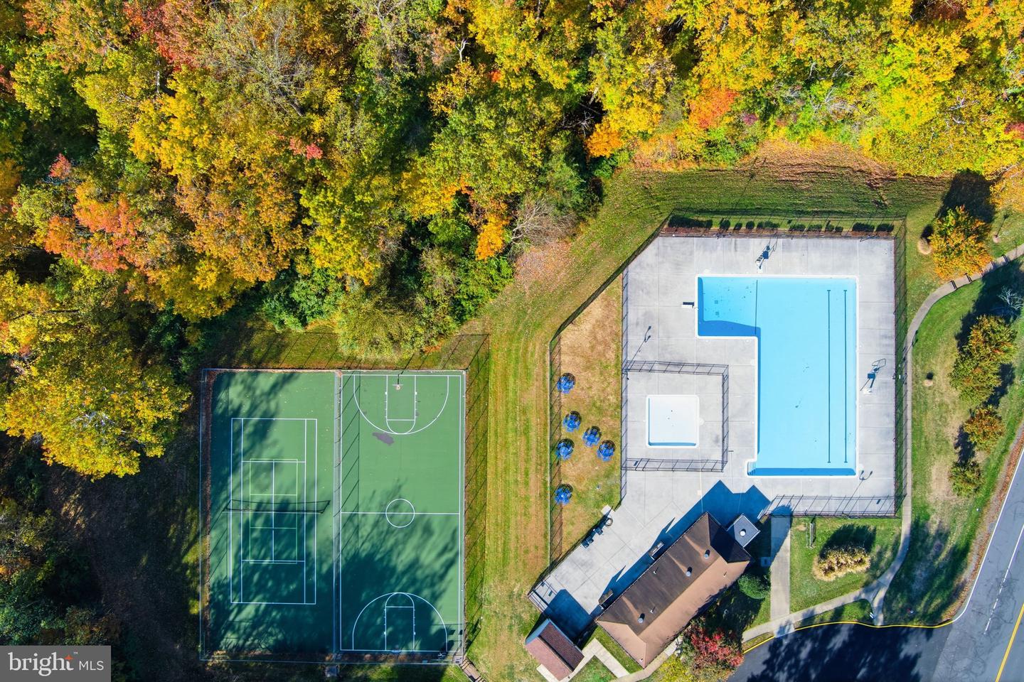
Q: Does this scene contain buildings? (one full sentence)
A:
Yes, I can see a building in this picture.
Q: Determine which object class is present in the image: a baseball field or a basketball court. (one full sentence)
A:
This aerial view contains a basketball court.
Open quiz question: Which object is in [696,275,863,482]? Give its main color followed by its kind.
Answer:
blue swimming pool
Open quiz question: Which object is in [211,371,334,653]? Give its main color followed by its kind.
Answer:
green tennis court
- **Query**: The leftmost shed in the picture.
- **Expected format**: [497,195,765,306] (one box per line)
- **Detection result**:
[526,620,585,681]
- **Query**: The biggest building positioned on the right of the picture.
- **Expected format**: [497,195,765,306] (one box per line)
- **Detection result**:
[595,511,753,668]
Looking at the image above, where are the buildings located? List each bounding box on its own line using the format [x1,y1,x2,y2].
[595,511,753,668]
[526,620,585,681]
